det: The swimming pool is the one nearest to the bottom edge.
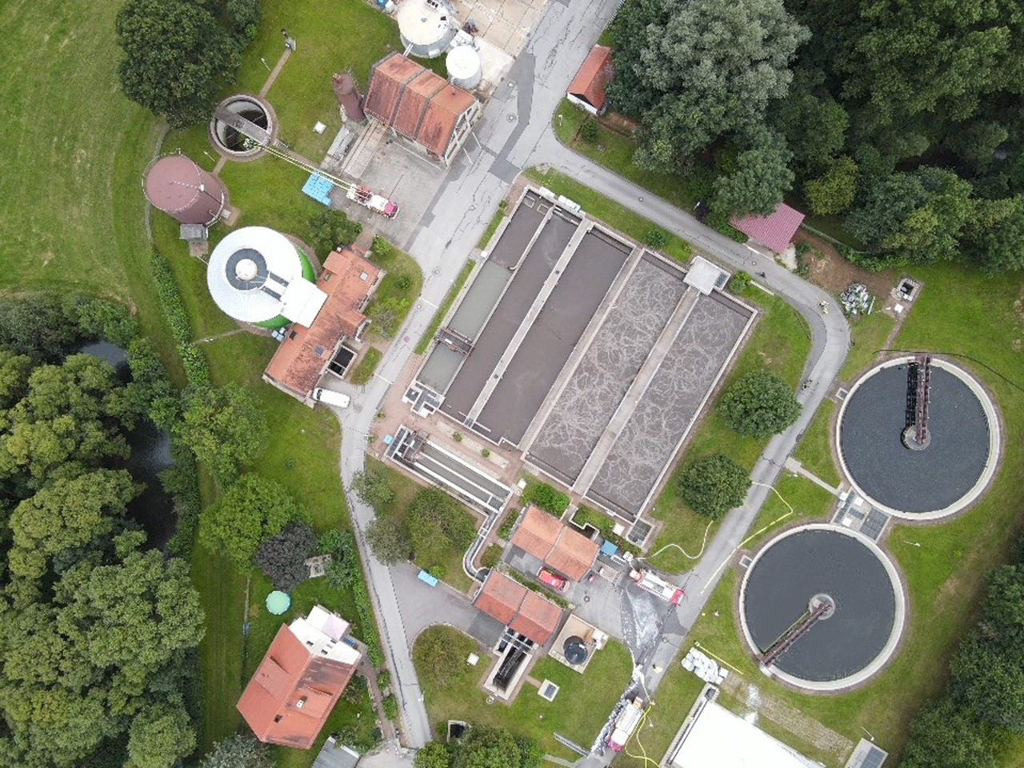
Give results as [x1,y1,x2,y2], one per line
[265,590,291,616]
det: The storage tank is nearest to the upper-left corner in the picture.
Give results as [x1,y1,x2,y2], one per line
[140,153,228,223]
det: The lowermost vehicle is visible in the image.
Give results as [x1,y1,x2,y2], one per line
[602,691,647,757]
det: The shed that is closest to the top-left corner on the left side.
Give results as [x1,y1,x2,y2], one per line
[179,223,212,242]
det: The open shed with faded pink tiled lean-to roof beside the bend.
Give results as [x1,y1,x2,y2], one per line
[729,201,805,254]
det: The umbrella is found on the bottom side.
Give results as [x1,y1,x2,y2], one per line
[324,613,348,640]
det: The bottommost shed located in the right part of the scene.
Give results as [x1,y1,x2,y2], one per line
[839,733,889,768]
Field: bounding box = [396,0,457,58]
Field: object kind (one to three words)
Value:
storage tank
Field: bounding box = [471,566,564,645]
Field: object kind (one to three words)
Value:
house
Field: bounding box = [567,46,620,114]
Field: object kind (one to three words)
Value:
building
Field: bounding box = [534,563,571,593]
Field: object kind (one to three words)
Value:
van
